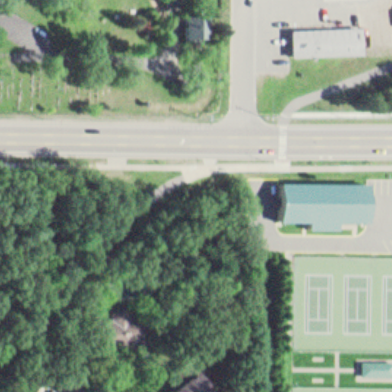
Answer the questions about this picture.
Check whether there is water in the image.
No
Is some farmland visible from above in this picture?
No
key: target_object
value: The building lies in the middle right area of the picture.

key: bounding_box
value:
[282,184,377,232]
